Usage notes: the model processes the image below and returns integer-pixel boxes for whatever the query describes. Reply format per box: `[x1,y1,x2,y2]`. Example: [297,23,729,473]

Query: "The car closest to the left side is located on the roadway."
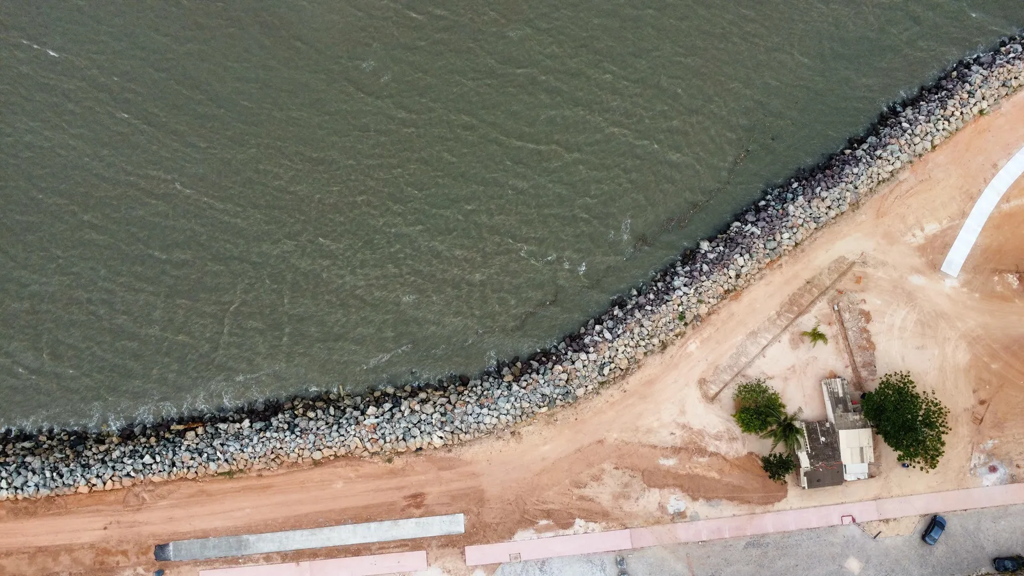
[923,515,947,547]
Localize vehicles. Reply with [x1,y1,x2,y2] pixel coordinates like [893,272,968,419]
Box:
[993,557,1024,574]
[923,515,947,547]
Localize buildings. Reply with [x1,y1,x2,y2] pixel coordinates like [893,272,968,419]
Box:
[794,377,883,489]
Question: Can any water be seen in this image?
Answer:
Yes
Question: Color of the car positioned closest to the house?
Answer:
blue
